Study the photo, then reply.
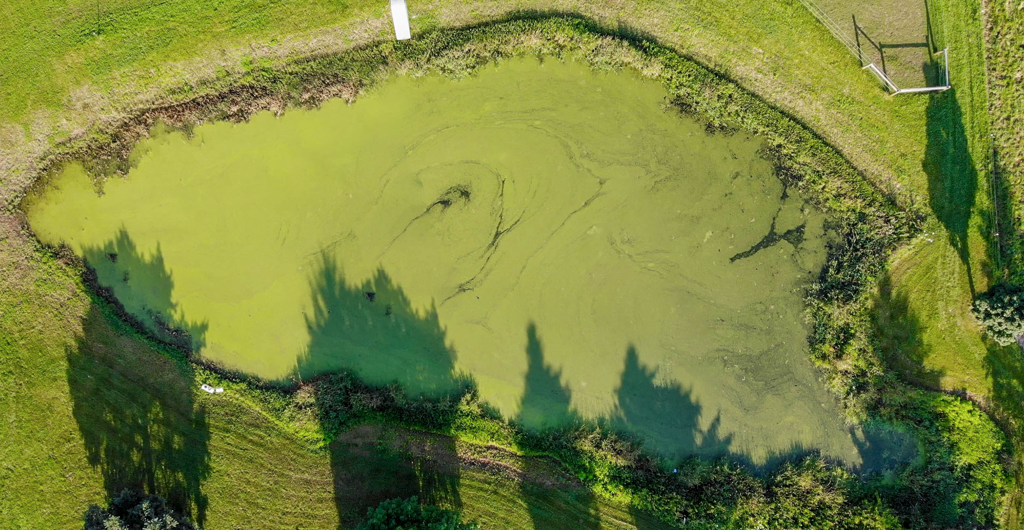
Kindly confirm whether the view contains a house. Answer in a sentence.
No, no house is visible in the view.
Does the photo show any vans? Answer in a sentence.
No, the scene contains no van.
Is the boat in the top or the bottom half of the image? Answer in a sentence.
The boat is in the top half of the image.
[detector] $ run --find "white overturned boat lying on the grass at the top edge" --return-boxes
[391,0,412,38]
